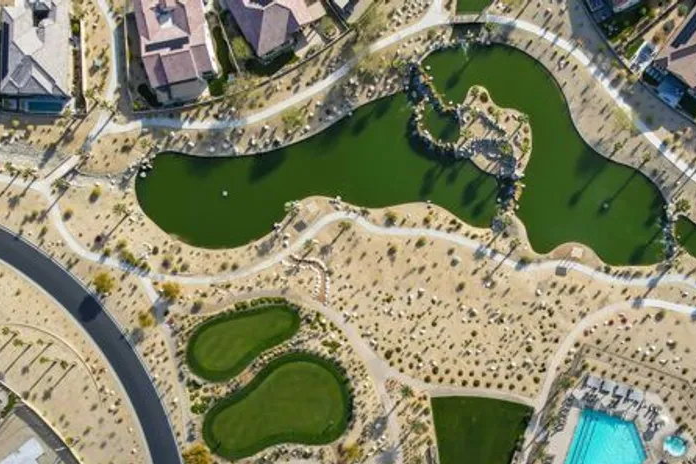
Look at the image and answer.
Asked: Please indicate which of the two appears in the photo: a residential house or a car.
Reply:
residential house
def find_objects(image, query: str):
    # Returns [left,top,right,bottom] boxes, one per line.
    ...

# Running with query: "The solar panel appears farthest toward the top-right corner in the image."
[671,13,696,47]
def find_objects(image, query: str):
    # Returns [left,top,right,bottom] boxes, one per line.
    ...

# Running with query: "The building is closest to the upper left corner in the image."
[1,0,76,99]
